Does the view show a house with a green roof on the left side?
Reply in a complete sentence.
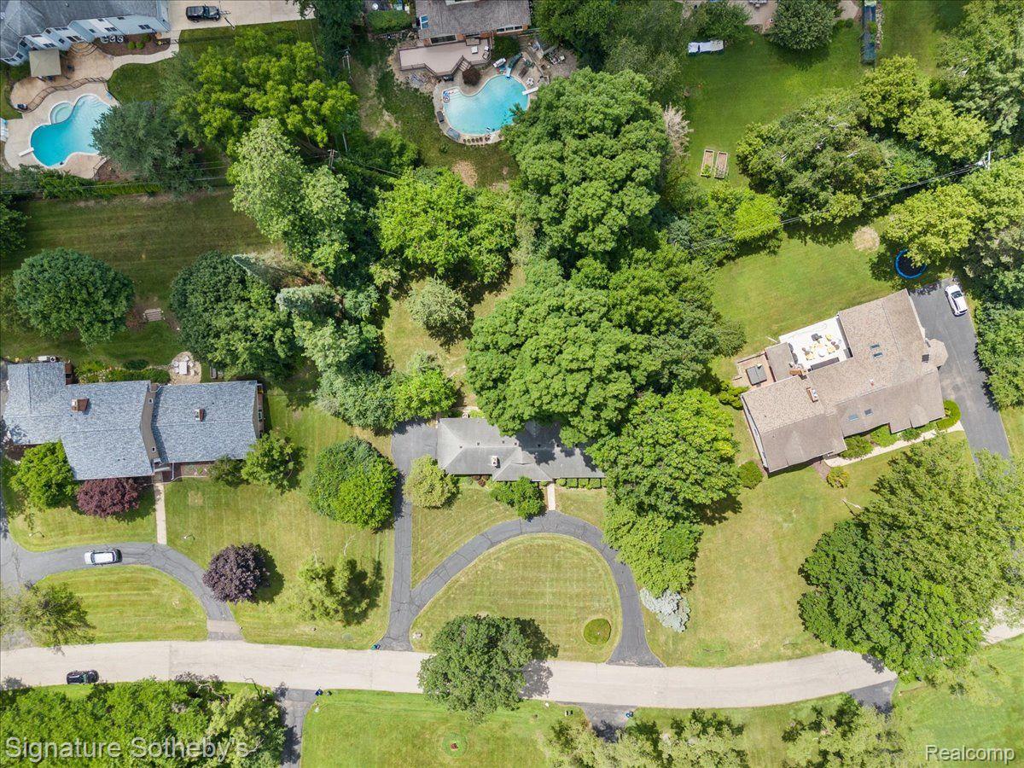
No, no house with a green roof can be made out on the left side.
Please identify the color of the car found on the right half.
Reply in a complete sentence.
The car found on the right half looks white in the image.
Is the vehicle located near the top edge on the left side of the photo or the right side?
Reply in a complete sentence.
The vehicle located near the top edge appears in the left half of the scene.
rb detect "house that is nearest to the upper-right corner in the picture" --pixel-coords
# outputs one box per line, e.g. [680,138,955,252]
[740,289,947,475]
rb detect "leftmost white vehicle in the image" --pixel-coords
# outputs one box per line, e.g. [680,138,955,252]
[86,548,123,566]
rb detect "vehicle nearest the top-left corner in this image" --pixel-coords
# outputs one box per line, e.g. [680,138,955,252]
[185,3,223,23]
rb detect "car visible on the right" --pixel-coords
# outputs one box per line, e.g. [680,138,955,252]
[943,282,968,318]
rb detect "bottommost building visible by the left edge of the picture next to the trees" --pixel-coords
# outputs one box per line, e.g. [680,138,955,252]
[3,360,263,480]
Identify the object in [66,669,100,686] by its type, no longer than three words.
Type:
car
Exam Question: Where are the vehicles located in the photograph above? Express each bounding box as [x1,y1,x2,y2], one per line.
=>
[86,548,123,566]
[185,3,223,23]
[66,669,100,686]
[943,282,968,318]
